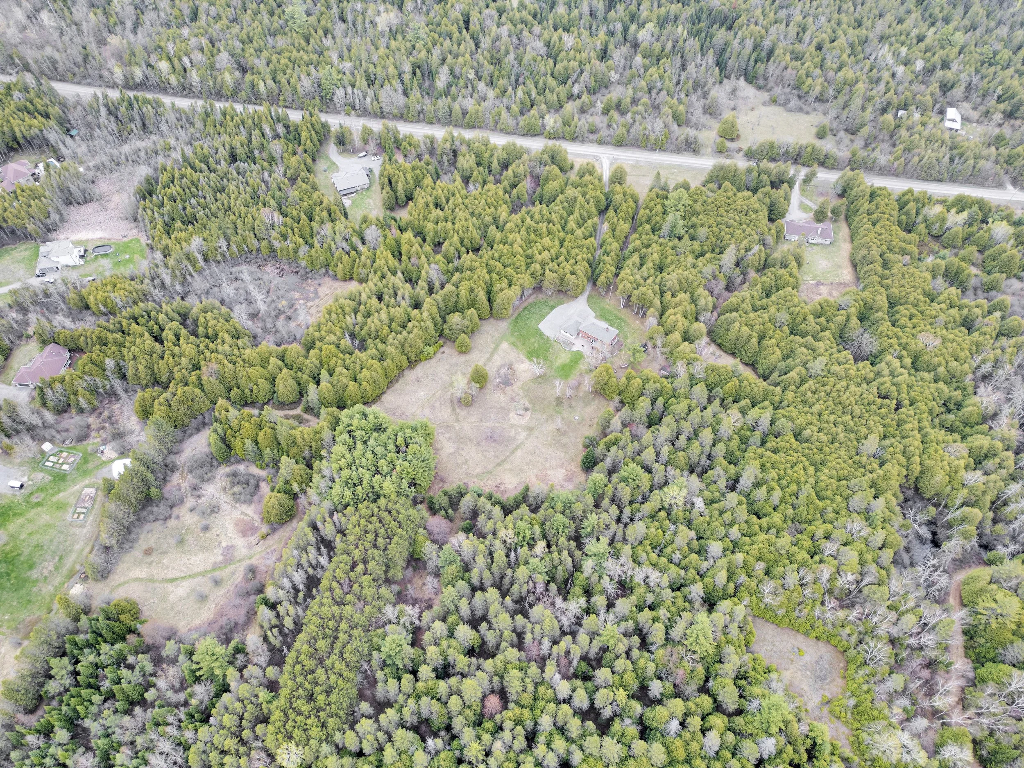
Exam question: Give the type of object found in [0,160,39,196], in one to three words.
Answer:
house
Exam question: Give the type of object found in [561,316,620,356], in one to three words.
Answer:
house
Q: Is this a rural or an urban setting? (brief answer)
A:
rural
